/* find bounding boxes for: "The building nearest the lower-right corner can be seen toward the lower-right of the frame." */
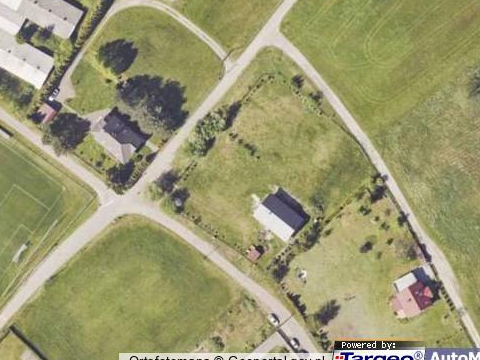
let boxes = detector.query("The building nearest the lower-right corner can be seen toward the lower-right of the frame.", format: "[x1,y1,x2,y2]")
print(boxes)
[396,282,435,318]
